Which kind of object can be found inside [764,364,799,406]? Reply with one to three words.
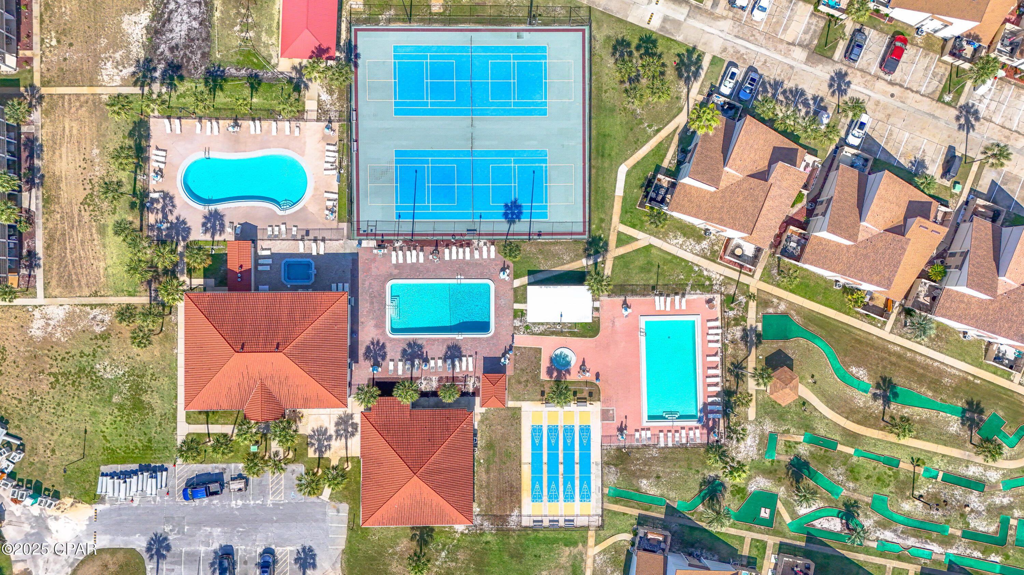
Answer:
gazebo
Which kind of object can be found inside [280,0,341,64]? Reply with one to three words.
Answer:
building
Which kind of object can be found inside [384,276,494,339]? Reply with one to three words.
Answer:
swimming pool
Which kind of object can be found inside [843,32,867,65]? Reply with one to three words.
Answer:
car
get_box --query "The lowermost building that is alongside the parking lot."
[361,397,473,528]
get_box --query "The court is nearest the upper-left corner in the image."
[350,25,589,239]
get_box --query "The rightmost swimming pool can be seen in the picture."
[639,314,705,429]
